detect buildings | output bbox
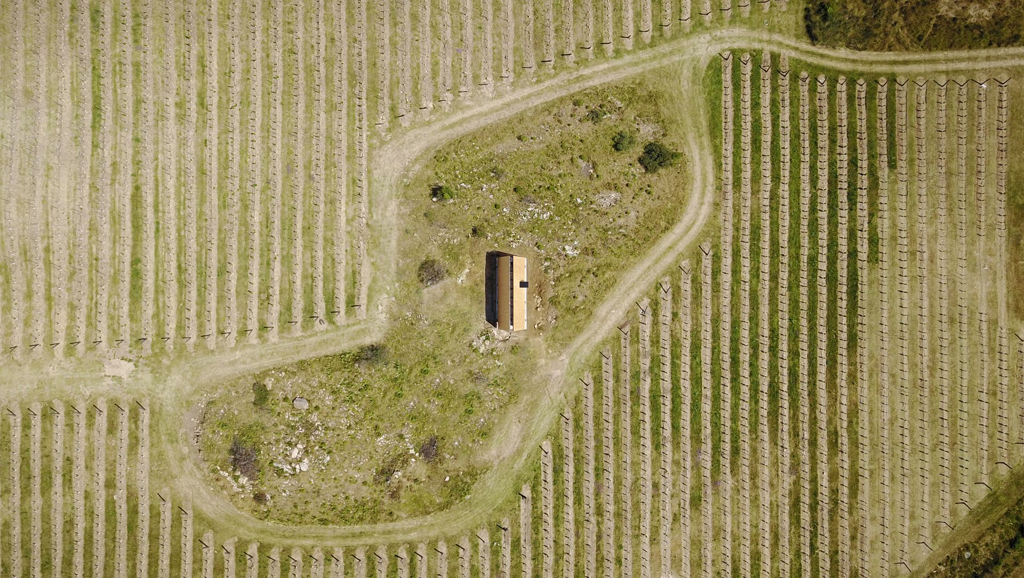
[496,256,529,331]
